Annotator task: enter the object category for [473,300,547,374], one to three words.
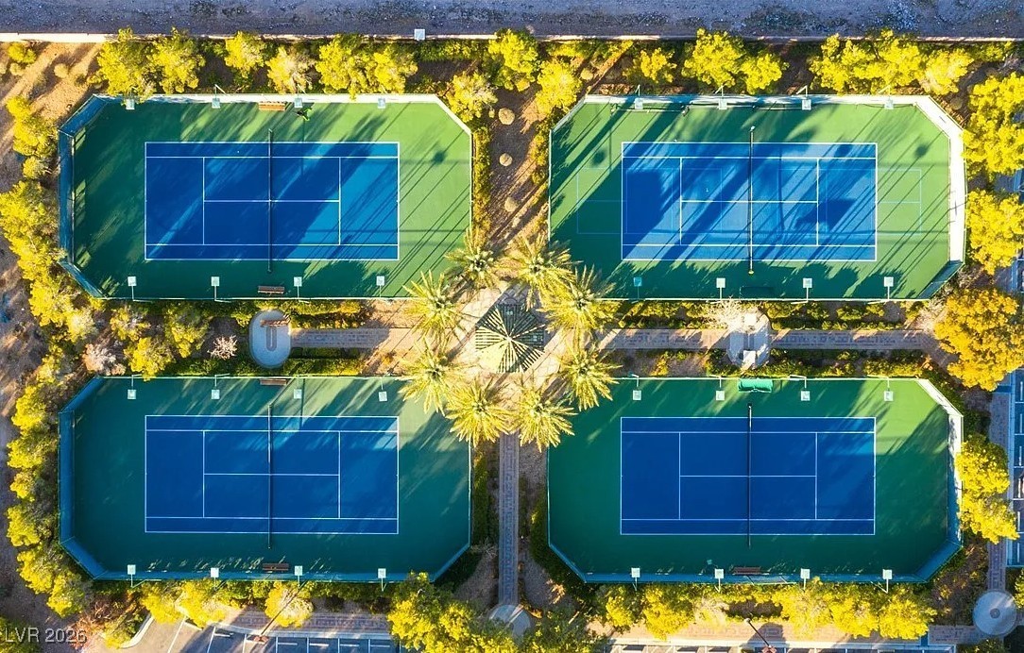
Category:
gazebo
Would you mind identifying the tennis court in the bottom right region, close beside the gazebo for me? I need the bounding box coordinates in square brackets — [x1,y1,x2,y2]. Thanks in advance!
[549,377,947,573]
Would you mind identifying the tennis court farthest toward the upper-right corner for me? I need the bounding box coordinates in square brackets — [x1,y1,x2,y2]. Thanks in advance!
[551,103,948,299]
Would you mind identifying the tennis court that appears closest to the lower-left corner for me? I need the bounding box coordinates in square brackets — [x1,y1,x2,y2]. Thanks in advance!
[75,376,471,574]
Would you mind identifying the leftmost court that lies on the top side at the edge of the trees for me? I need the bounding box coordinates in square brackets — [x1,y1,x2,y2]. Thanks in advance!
[75,102,470,297]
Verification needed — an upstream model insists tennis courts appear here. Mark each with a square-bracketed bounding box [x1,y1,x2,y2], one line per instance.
[549,377,947,573]
[551,103,948,299]
[75,102,470,297]
[75,376,471,574]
